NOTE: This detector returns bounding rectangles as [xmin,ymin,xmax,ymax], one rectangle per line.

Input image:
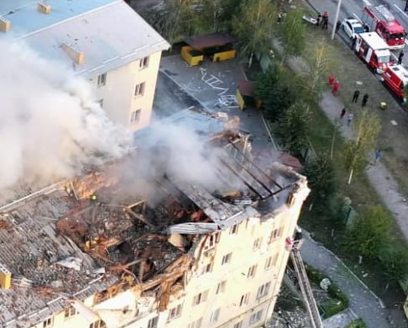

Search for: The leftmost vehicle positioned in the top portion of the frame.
[340,19,364,37]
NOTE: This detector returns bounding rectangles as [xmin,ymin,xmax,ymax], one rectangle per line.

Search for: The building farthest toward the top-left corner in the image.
[0,0,171,162]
